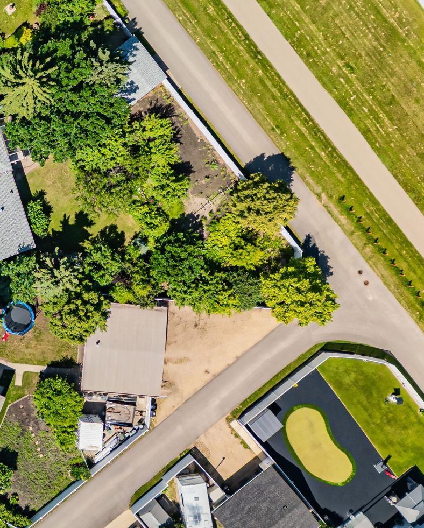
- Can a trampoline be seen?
Yes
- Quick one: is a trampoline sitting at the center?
No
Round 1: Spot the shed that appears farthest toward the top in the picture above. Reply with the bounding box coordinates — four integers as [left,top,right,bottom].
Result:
[100,34,167,100]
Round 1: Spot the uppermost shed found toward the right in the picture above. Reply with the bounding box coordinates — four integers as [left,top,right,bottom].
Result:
[244,408,283,443]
